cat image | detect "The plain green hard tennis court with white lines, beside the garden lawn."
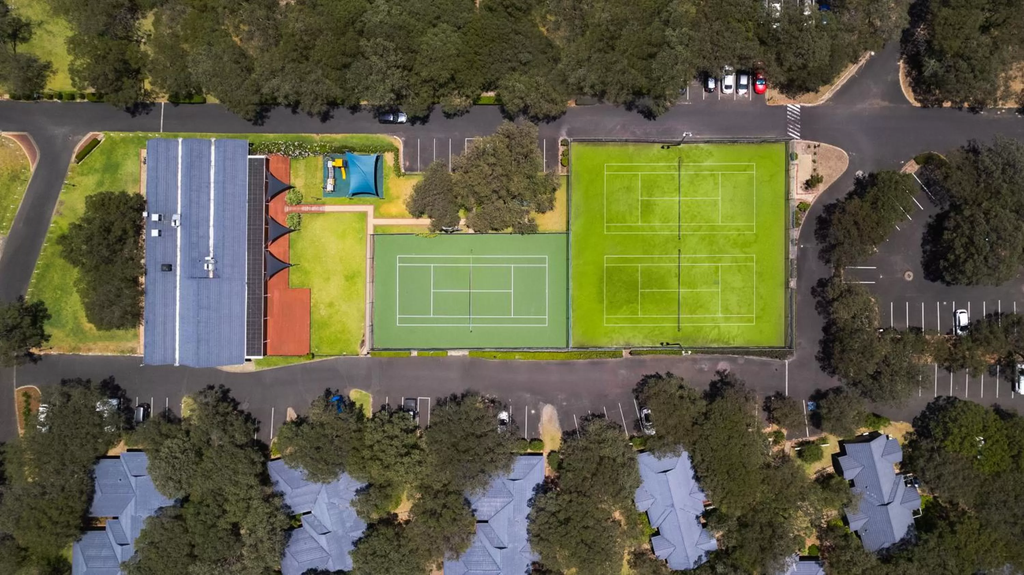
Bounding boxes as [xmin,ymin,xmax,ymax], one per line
[374,234,569,349]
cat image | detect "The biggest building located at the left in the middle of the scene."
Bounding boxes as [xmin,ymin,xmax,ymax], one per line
[143,138,274,366]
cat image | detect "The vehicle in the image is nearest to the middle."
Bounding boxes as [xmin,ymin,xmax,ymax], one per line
[496,411,510,437]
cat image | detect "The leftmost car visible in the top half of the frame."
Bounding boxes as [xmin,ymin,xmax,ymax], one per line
[378,110,408,125]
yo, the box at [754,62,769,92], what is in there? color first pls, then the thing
red car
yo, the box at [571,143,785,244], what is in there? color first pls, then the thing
green tennis court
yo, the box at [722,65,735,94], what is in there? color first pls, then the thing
white vehicle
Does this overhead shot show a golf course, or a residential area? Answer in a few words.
residential area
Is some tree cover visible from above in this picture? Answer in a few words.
Yes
